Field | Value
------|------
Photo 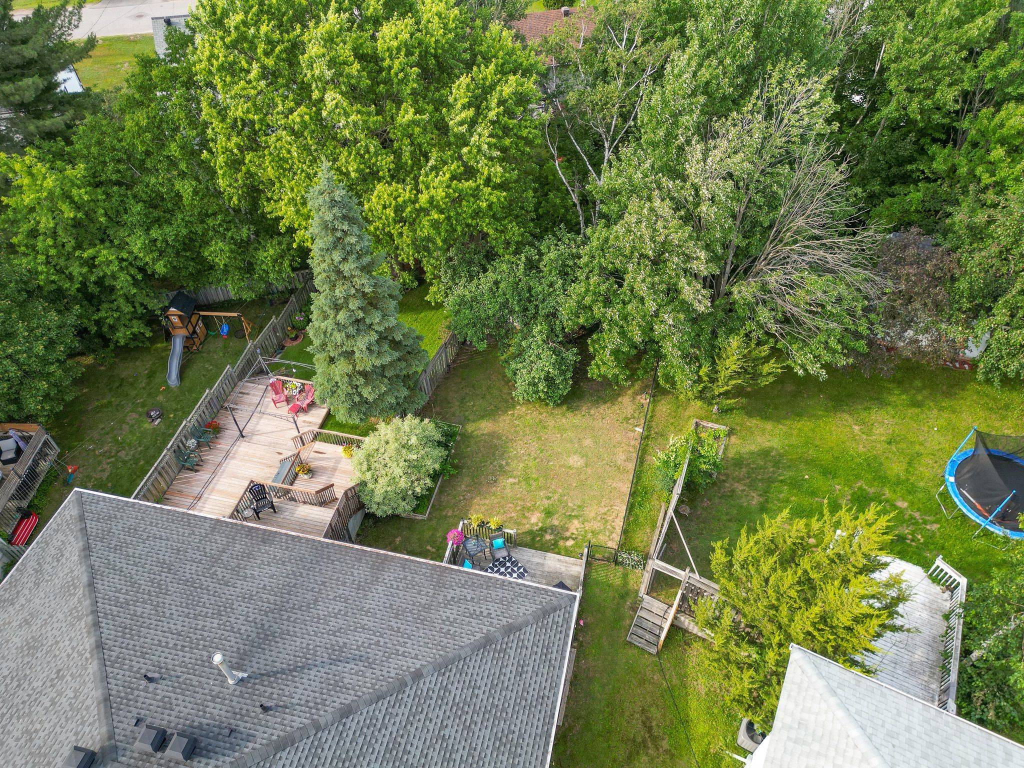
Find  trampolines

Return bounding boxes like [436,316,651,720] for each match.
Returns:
[923,426,1024,555]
